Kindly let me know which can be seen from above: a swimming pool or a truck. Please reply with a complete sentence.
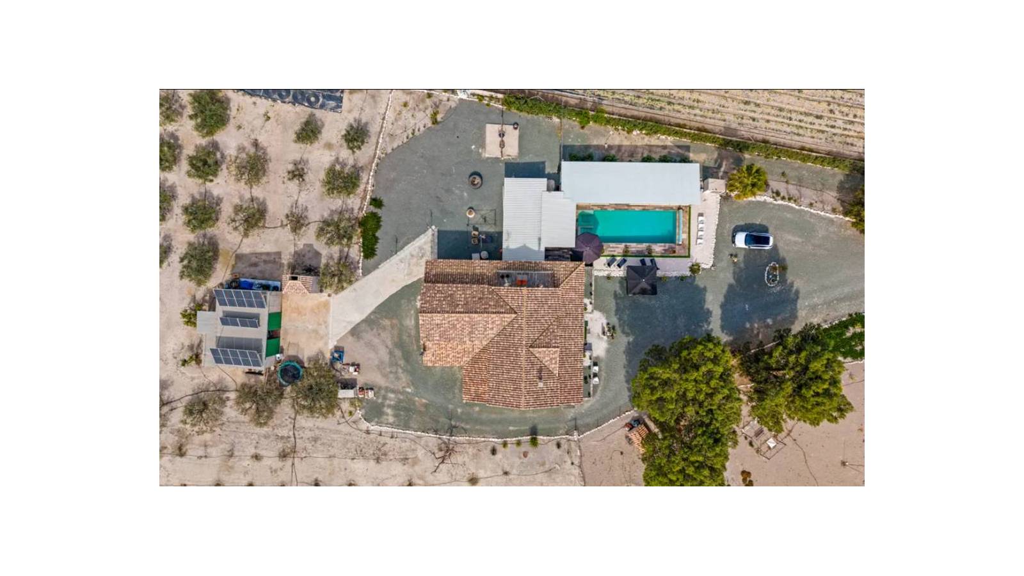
I can see a swimming pool in this picture.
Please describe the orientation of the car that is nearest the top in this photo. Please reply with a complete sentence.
In this picture, the car that is nearest the top is oriented horizontally.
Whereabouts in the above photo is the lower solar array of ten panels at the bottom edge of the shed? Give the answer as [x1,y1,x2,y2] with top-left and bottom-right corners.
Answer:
[210,348,263,367]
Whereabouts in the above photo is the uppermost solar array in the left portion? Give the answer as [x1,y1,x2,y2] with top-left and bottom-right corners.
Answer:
[214,289,266,308]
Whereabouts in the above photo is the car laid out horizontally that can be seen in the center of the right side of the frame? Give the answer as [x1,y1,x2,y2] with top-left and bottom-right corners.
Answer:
[735,229,778,249]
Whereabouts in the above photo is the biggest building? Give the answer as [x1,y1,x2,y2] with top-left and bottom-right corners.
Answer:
[418,259,584,411]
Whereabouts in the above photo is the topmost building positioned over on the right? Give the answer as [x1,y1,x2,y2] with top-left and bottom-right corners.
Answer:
[560,161,704,206]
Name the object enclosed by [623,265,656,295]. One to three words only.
gazebo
